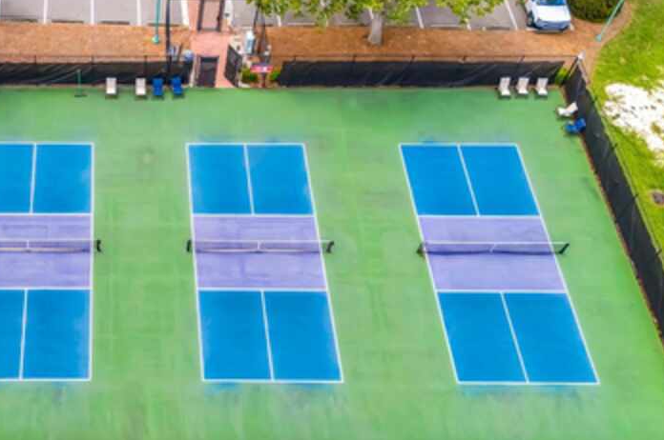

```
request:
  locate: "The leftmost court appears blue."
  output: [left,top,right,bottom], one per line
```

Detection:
[0,141,94,382]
